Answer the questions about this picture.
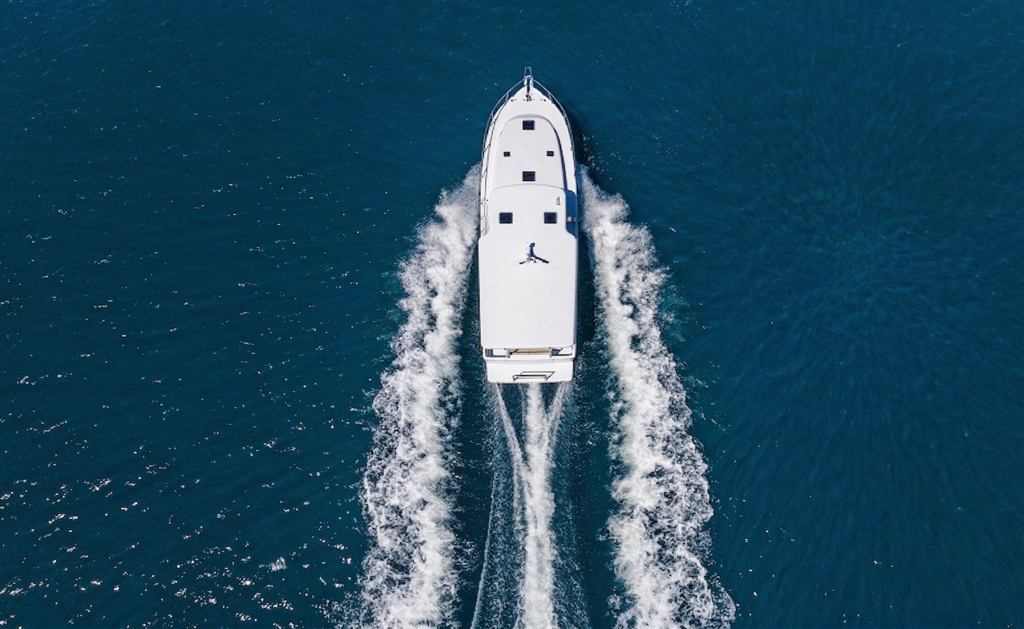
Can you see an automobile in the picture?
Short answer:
No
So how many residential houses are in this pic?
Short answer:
0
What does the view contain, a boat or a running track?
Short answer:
boat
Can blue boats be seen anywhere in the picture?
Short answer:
No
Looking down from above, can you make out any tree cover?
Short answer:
No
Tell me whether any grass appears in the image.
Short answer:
No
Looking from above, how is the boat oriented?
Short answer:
from top to bottom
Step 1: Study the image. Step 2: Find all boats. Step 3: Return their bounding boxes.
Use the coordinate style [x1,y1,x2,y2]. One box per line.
[479,66,579,384]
